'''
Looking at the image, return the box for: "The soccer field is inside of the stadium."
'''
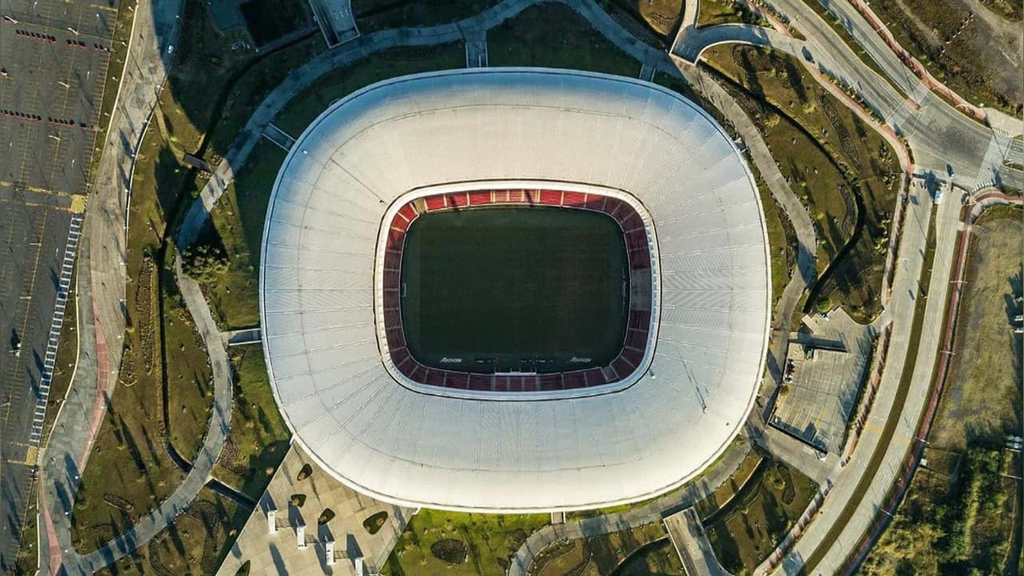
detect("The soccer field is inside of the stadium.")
[400,204,630,374]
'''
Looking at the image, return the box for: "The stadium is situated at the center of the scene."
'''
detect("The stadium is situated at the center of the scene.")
[261,67,771,512]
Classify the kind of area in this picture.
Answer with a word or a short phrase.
sports ground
